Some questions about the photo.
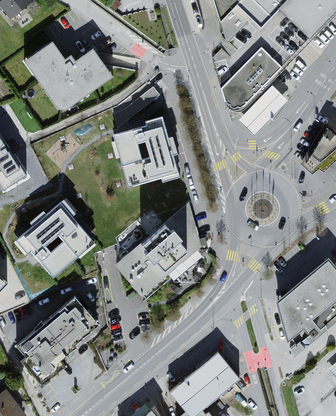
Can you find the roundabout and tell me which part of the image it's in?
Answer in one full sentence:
The roundabout is located in the right region of the scene.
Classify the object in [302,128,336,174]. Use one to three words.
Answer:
building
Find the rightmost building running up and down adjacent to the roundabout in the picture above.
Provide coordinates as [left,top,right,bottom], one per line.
[166,202,202,274]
